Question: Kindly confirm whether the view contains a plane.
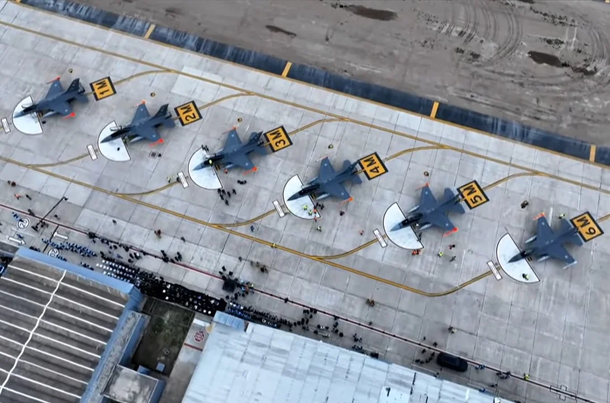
Yes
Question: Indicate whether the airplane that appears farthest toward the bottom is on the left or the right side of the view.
right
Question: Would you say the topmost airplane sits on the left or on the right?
left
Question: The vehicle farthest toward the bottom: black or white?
black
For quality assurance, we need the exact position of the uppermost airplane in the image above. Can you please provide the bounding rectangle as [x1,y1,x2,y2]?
[10,77,88,120]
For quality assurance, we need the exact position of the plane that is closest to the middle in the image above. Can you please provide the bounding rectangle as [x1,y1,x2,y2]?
[287,157,365,204]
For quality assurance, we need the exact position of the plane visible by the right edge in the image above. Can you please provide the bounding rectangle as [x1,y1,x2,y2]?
[506,215,586,268]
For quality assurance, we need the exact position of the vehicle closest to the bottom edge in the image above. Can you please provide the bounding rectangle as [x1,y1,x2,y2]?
[434,352,467,374]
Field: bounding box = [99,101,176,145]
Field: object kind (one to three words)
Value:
airplane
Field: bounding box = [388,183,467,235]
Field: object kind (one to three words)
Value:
airplane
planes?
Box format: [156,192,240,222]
[506,215,586,268]
[189,127,269,174]
[287,157,365,204]
[99,101,176,145]
[10,77,88,120]
[388,183,467,235]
